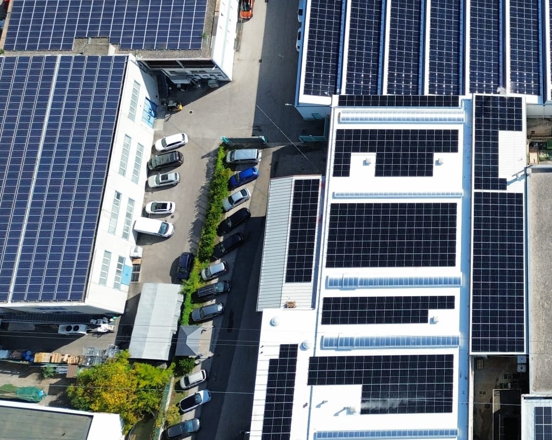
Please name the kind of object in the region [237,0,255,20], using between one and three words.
car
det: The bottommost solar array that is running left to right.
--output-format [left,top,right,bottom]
[307,354,453,413]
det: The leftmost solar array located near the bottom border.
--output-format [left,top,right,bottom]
[262,344,298,440]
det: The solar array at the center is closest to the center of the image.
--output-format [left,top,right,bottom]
[286,179,319,282]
